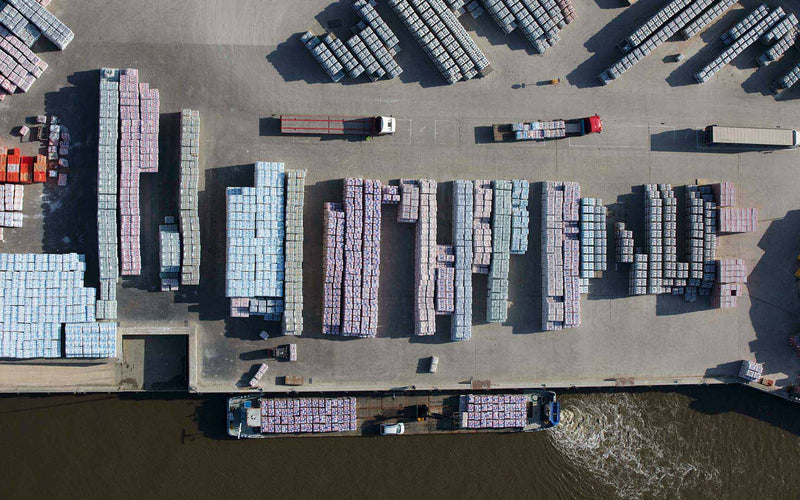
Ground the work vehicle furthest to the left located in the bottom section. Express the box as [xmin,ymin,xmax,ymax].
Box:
[265,345,290,359]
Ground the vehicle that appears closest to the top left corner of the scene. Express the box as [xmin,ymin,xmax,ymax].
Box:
[280,112,394,134]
